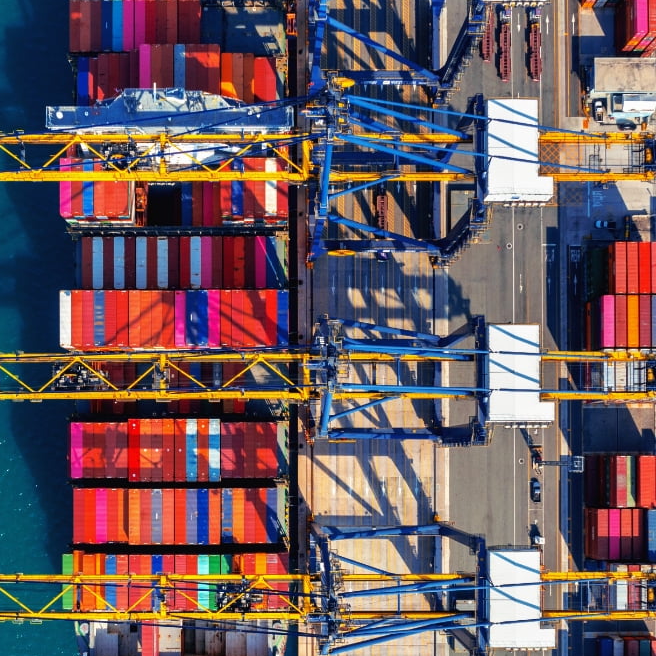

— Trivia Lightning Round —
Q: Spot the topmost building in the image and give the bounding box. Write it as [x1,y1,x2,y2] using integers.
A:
[592,58,656,96]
